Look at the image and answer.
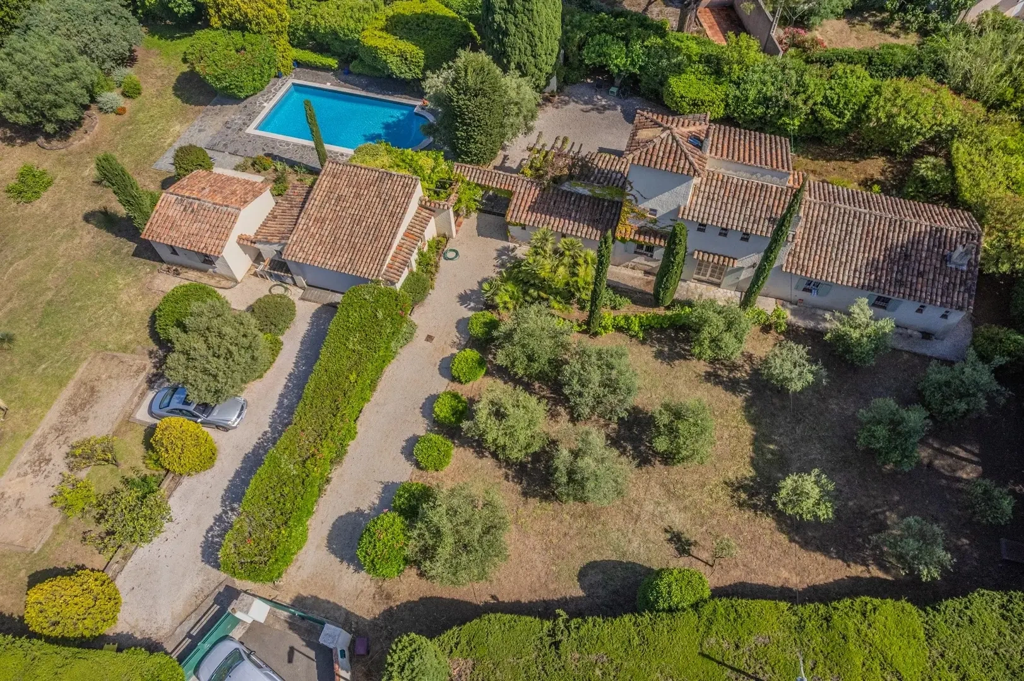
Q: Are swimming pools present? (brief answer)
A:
Yes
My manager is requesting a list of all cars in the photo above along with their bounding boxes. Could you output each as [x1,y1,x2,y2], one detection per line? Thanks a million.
[197,641,271,681]
[143,388,255,437]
